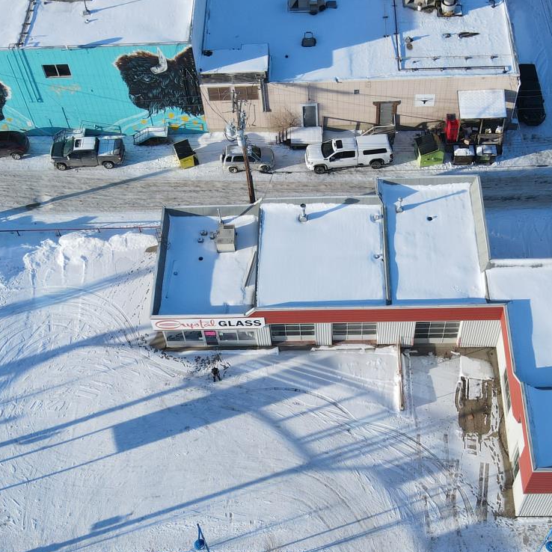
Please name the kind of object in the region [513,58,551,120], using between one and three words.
van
